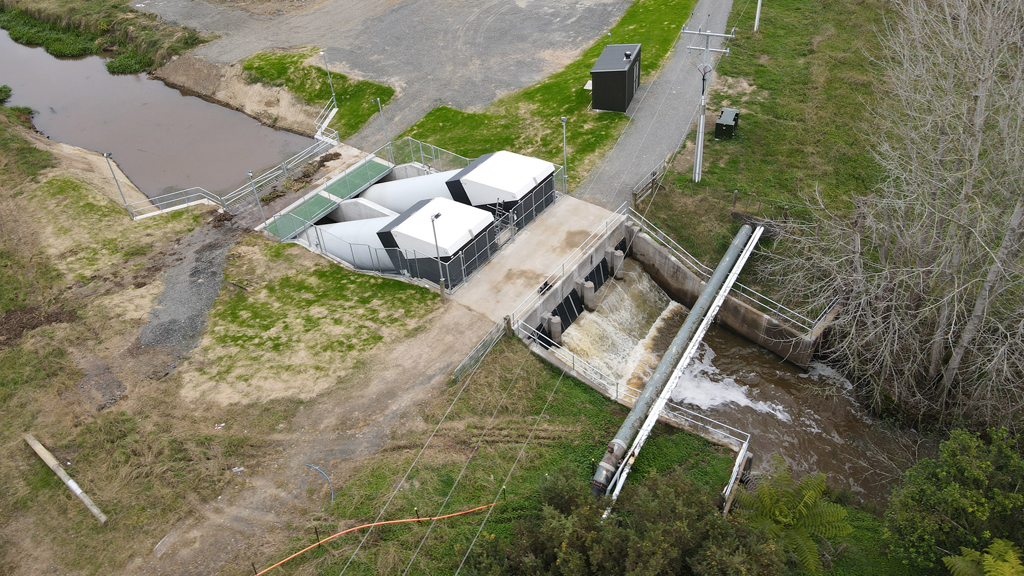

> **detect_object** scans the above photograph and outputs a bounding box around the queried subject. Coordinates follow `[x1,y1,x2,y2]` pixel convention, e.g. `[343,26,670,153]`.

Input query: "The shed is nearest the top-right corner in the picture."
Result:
[590,47,643,111]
